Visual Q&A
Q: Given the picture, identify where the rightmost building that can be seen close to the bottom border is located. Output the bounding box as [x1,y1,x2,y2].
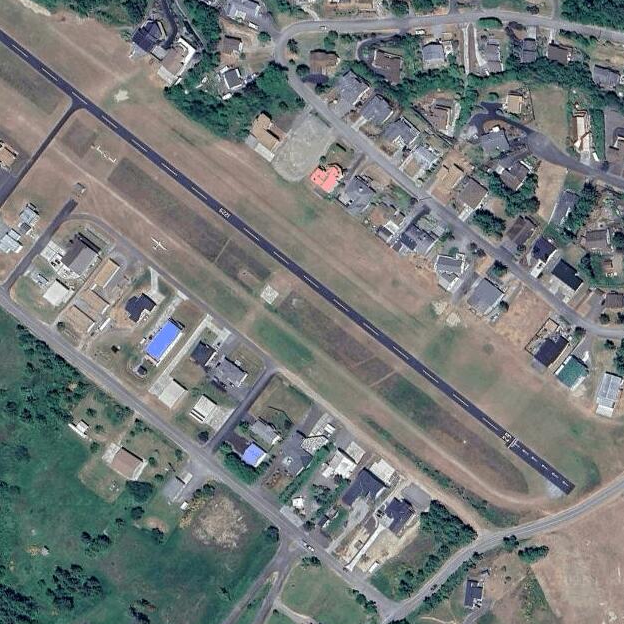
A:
[463,581,484,607]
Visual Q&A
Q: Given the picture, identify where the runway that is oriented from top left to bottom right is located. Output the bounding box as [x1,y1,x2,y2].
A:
[0,26,575,493]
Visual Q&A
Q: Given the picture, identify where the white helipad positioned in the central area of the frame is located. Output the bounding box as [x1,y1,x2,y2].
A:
[261,285,279,304]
